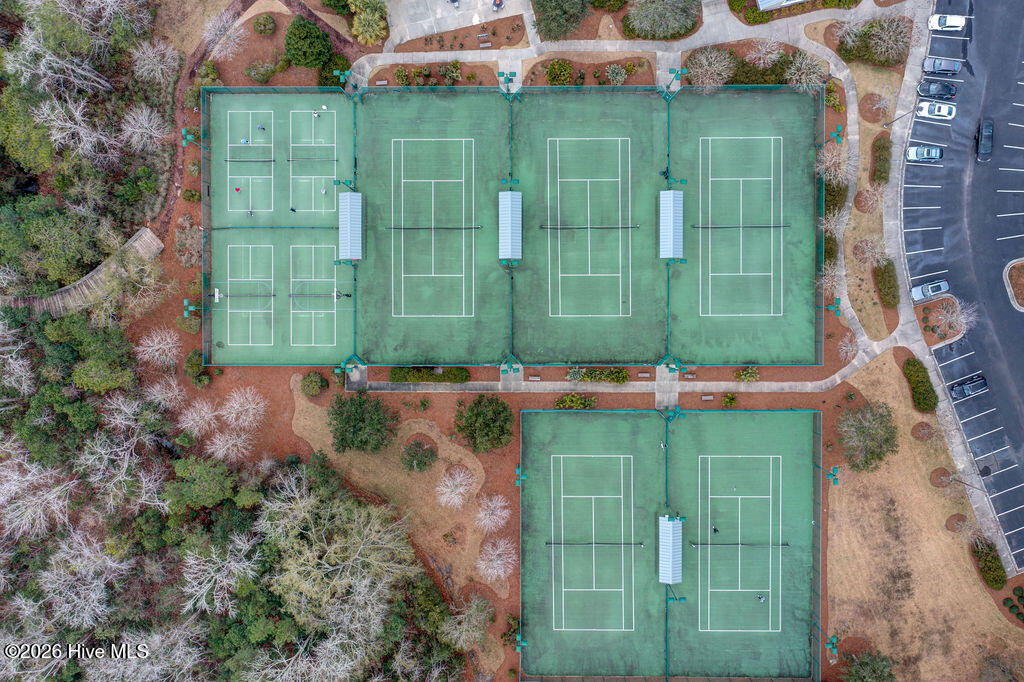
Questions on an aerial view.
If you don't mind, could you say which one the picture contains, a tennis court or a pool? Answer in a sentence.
I can see a tennis court in this picture.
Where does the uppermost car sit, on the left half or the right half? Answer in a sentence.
The uppermost car appears in the right half of the scene.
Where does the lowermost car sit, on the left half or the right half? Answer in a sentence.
The lowermost car appears in the right half of the scene.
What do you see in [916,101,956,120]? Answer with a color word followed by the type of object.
white car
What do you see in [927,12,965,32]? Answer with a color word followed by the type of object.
white car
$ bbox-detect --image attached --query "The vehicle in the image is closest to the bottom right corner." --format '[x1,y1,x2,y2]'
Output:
[949,376,990,400]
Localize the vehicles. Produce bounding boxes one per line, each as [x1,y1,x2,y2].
[927,12,965,32]
[975,119,997,162]
[916,101,956,120]
[911,280,950,300]
[916,81,956,100]
[905,144,944,163]
[921,56,962,76]
[949,376,990,400]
